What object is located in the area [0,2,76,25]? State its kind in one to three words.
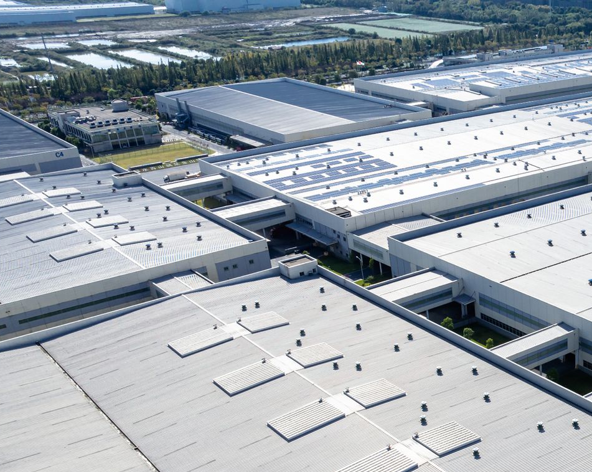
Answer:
building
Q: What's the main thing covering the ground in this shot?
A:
buildings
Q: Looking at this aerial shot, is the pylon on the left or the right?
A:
left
